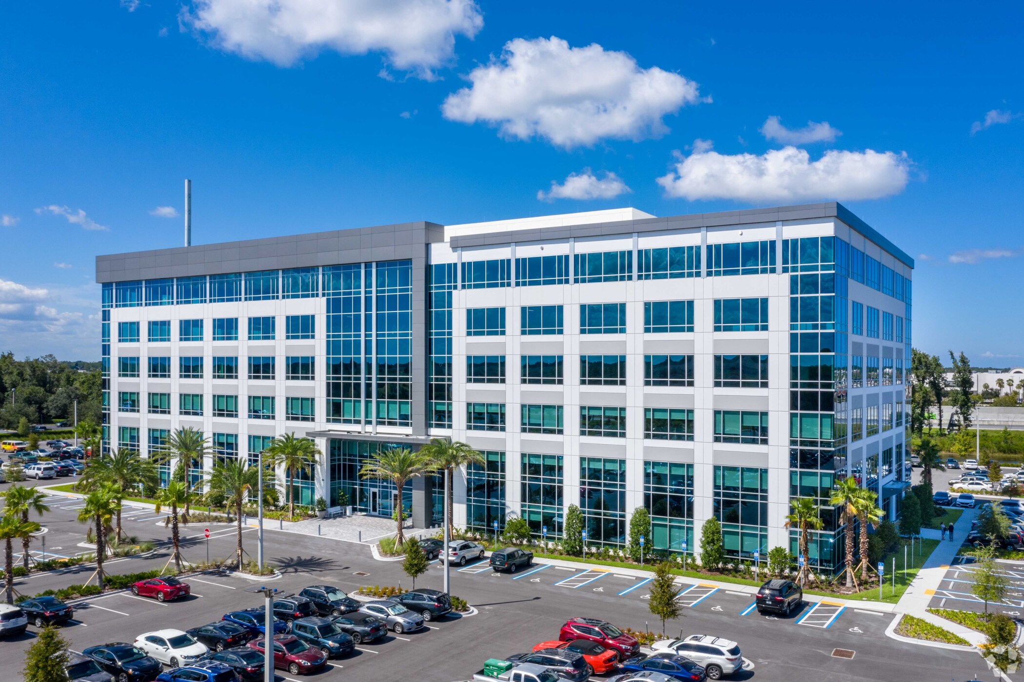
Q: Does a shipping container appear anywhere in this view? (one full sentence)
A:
No, there isn't any shipping container down there.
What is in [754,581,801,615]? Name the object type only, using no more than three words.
car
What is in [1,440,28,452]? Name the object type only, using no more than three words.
vehicle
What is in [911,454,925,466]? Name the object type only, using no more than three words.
vehicle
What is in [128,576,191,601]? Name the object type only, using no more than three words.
car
